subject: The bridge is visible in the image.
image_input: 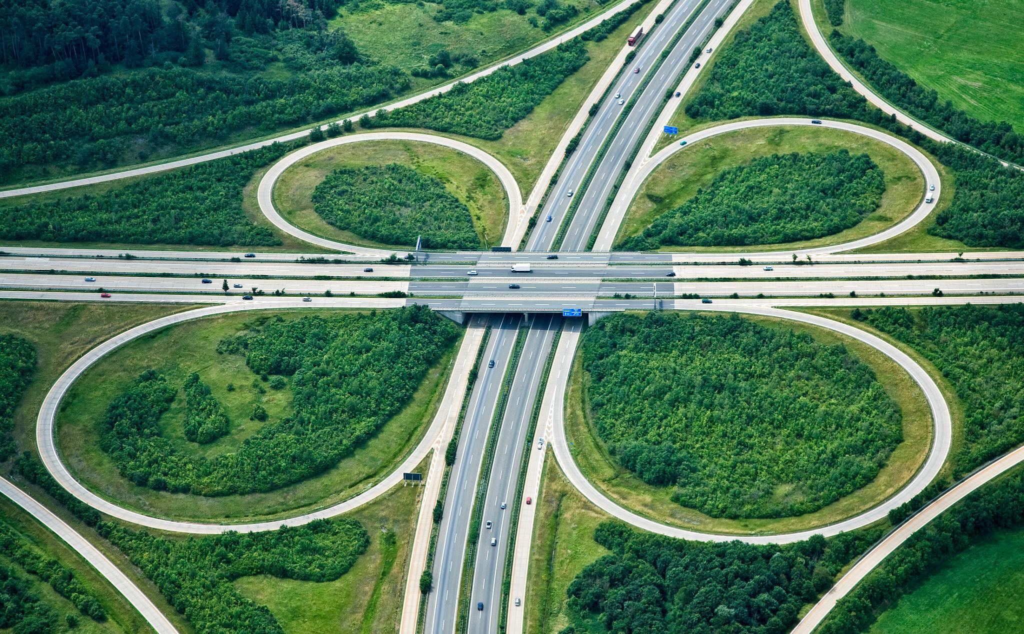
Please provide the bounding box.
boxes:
[430,250,642,324]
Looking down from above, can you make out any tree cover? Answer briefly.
Yes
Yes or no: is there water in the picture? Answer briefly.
No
